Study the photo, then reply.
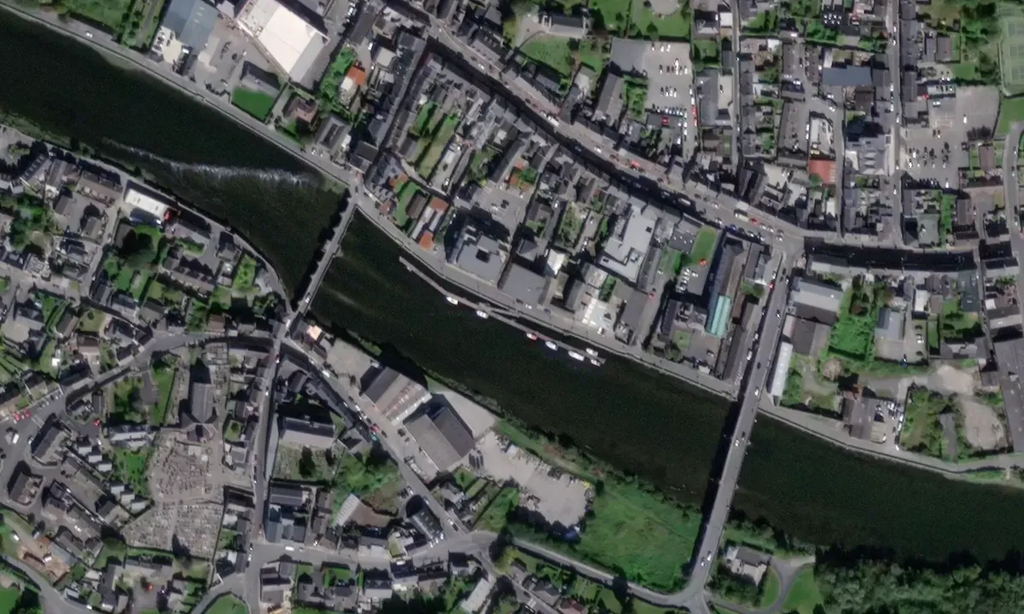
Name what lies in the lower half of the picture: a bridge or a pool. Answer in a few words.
bridge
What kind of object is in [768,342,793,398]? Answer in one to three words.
building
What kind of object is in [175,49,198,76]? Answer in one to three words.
shed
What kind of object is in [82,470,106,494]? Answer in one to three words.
house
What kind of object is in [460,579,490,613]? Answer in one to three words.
building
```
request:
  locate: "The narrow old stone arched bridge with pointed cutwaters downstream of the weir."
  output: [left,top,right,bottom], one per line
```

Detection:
[292,193,360,317]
